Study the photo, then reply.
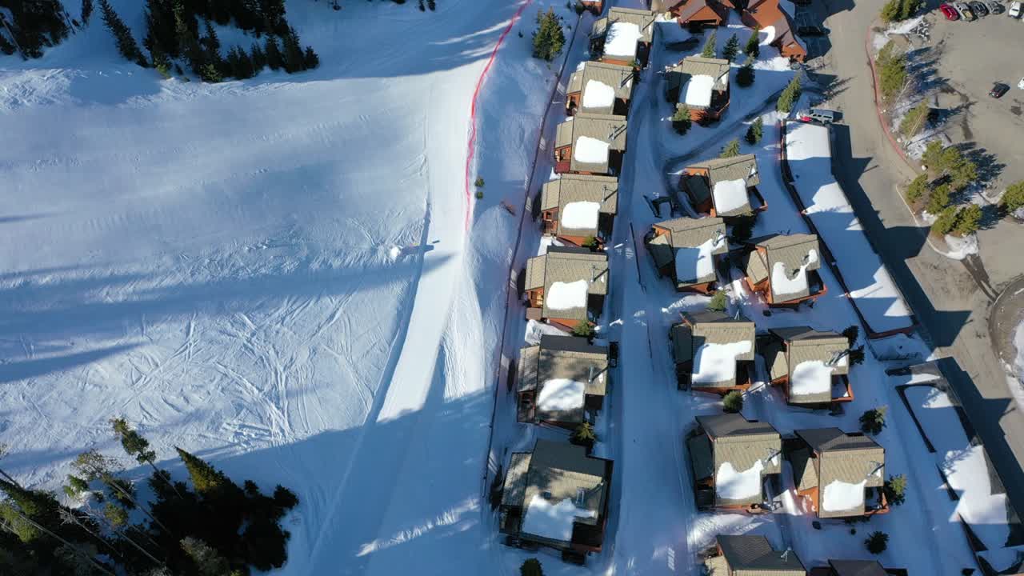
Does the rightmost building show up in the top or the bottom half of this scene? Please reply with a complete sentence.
The rightmost building sits in the bottom half of the picture.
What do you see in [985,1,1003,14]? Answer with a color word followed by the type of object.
gray vehicle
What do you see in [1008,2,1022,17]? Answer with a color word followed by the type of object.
white vehicle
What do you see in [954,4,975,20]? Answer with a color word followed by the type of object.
gray vehicle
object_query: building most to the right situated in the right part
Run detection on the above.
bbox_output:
[882,358,1024,576]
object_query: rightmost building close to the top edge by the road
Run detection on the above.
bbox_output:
[726,0,826,70]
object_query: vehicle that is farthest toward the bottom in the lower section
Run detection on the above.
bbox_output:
[606,342,621,369]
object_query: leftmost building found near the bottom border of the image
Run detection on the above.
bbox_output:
[495,442,605,554]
